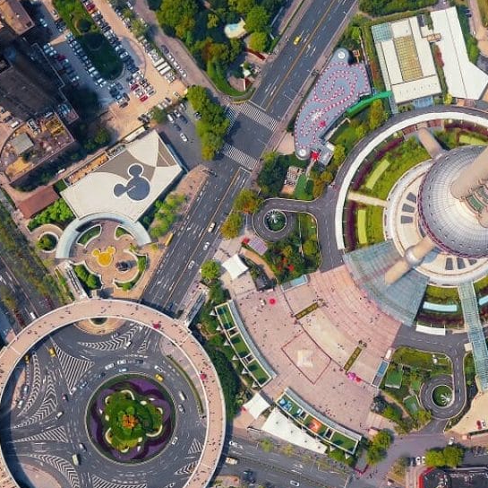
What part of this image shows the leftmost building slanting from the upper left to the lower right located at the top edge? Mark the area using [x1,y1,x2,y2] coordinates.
[0,0,49,46]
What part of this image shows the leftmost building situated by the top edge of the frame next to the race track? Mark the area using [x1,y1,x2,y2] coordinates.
[370,16,441,113]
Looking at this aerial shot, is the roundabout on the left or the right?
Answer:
left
